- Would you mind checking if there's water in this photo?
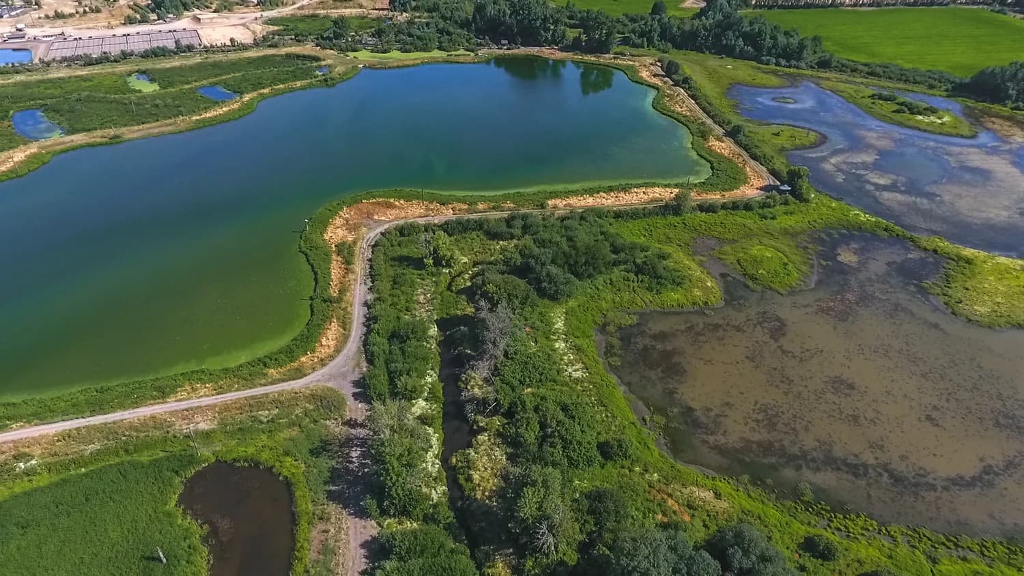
Yes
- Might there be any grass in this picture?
Yes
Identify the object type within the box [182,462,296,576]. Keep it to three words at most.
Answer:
pond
